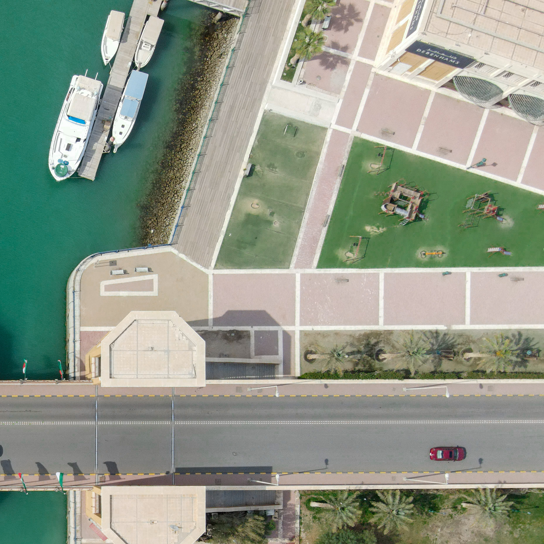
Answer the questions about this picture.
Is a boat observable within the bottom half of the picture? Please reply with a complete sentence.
No, no boat appears within the bottom half of the picture.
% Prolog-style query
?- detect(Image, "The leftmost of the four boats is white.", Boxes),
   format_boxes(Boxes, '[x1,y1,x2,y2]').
[49,71,101,181]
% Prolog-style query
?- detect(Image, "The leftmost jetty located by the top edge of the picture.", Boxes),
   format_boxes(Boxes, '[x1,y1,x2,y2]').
[78,0,161,181]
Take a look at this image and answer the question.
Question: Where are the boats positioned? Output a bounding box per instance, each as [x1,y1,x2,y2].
[136,7,164,71]
[113,64,150,152]
[49,71,101,181]
[101,2,126,65]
